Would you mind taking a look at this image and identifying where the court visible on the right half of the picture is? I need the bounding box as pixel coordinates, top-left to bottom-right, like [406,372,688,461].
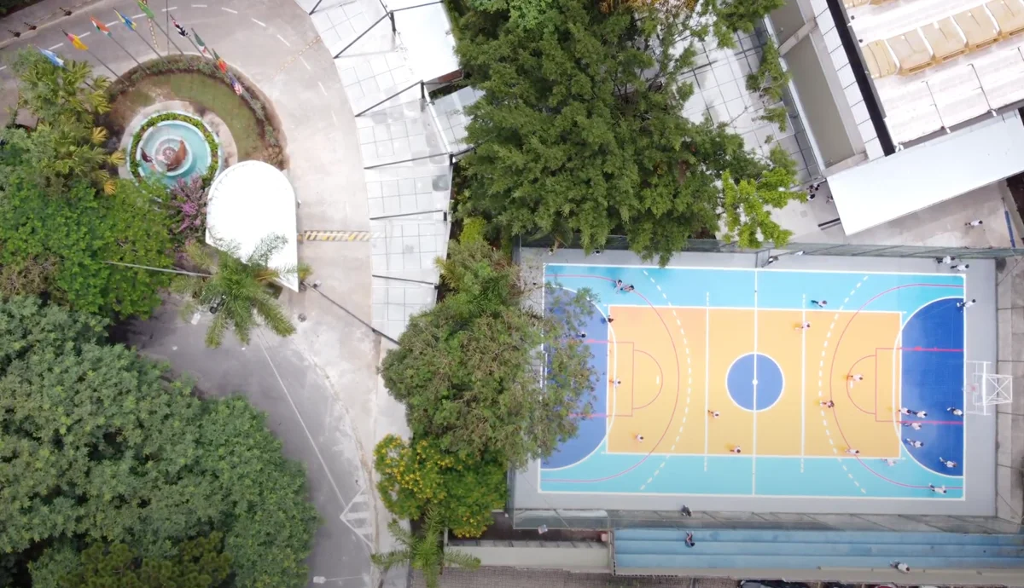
[516,248,998,517]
